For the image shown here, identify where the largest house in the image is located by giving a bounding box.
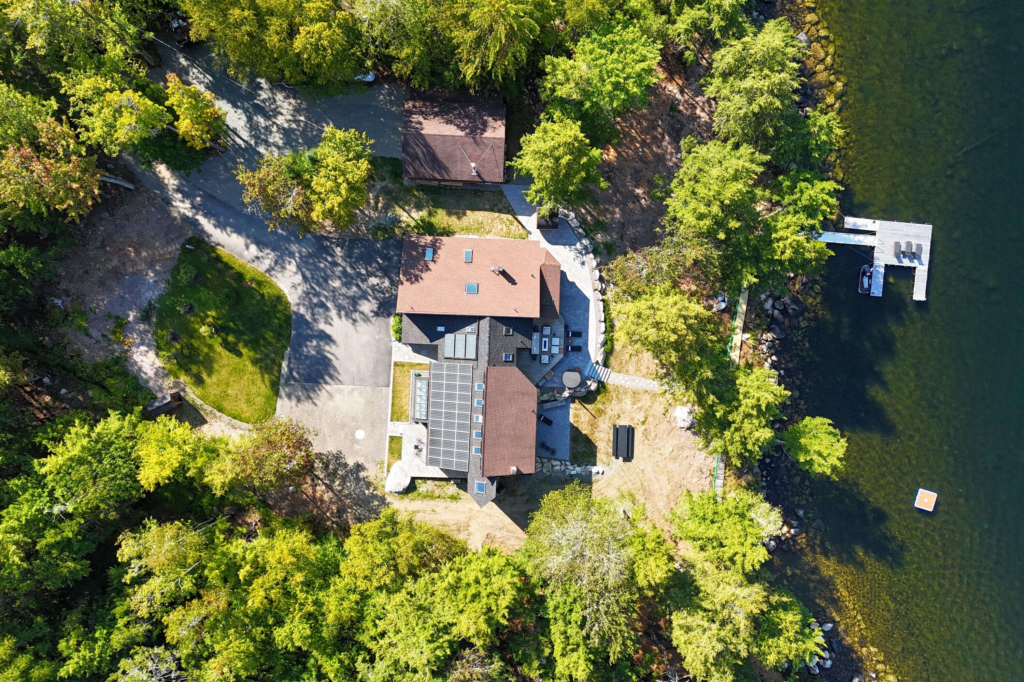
[396,236,561,508]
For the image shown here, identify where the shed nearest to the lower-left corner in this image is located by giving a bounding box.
[147,390,193,417]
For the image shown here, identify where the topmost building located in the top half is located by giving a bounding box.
[402,89,506,185]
